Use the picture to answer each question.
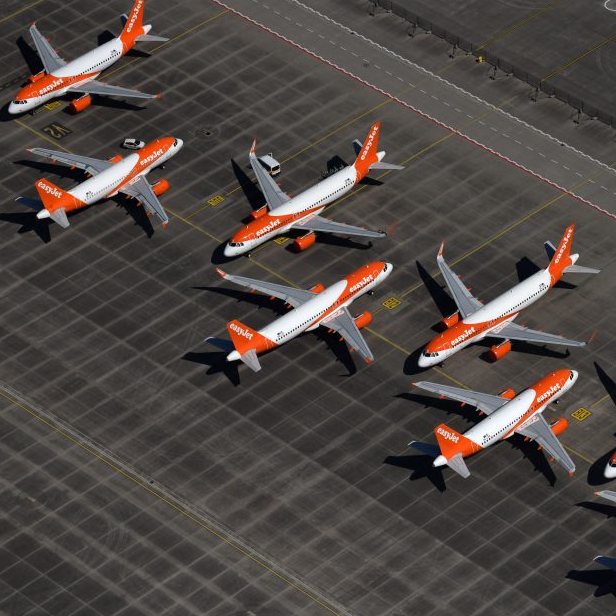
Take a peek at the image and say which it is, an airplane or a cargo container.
airplane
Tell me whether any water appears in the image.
No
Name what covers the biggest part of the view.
paved ground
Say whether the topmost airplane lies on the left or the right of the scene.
left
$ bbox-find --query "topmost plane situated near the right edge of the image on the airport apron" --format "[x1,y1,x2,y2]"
[416,223,602,366]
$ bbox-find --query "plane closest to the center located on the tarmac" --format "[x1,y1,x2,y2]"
[203,262,392,372]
